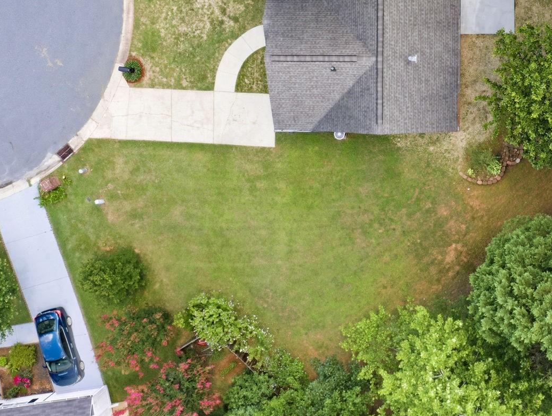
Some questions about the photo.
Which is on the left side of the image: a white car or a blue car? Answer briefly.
blue car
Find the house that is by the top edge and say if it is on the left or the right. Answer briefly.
right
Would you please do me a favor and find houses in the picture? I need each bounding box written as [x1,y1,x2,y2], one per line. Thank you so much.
[263,0,462,134]
[0,380,116,416]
